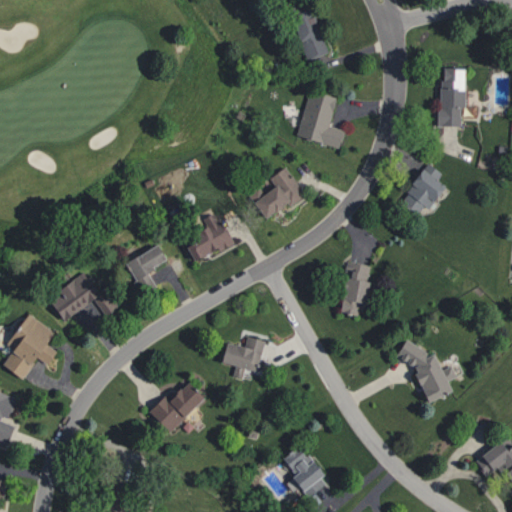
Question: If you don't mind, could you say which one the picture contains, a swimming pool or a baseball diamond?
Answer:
swimming pool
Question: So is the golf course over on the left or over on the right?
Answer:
left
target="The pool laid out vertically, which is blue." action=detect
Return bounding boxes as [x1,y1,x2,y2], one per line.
[496,78,510,106]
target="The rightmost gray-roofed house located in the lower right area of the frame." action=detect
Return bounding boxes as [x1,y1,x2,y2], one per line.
[476,436,512,480]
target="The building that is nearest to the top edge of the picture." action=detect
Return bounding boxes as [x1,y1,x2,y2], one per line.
[296,16,329,60]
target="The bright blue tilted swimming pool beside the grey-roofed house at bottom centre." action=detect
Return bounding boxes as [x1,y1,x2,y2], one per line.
[264,471,288,498]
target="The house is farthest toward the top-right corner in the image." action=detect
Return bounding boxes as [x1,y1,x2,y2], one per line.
[438,68,467,128]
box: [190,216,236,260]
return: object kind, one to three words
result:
house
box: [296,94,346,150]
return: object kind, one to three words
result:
house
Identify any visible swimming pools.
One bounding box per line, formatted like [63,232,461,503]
[496,78,510,106]
[264,471,288,498]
